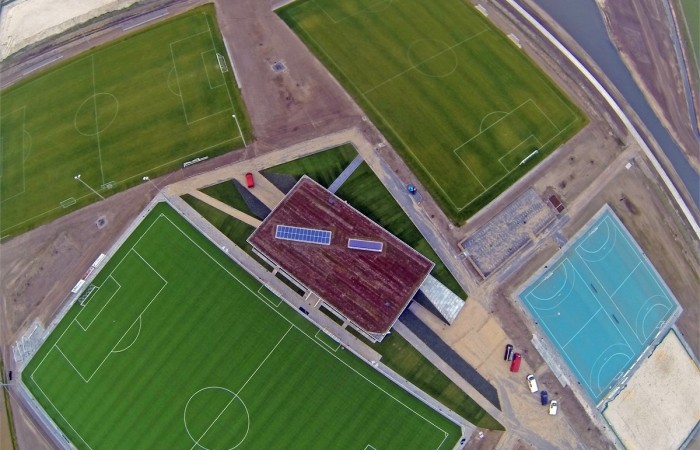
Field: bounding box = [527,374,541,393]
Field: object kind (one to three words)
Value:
vehicle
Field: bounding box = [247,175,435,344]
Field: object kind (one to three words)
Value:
building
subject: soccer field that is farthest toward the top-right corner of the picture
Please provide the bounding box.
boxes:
[274,0,589,225]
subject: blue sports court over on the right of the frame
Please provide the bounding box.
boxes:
[515,202,683,412]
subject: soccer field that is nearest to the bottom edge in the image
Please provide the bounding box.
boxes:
[21,201,462,450]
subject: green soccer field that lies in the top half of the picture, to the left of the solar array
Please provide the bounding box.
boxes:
[0,3,253,243]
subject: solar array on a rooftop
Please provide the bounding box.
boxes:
[275,225,332,245]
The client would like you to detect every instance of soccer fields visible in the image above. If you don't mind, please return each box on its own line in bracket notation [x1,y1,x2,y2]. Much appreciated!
[274,0,589,225]
[21,201,462,450]
[0,3,253,243]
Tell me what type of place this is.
sports ground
